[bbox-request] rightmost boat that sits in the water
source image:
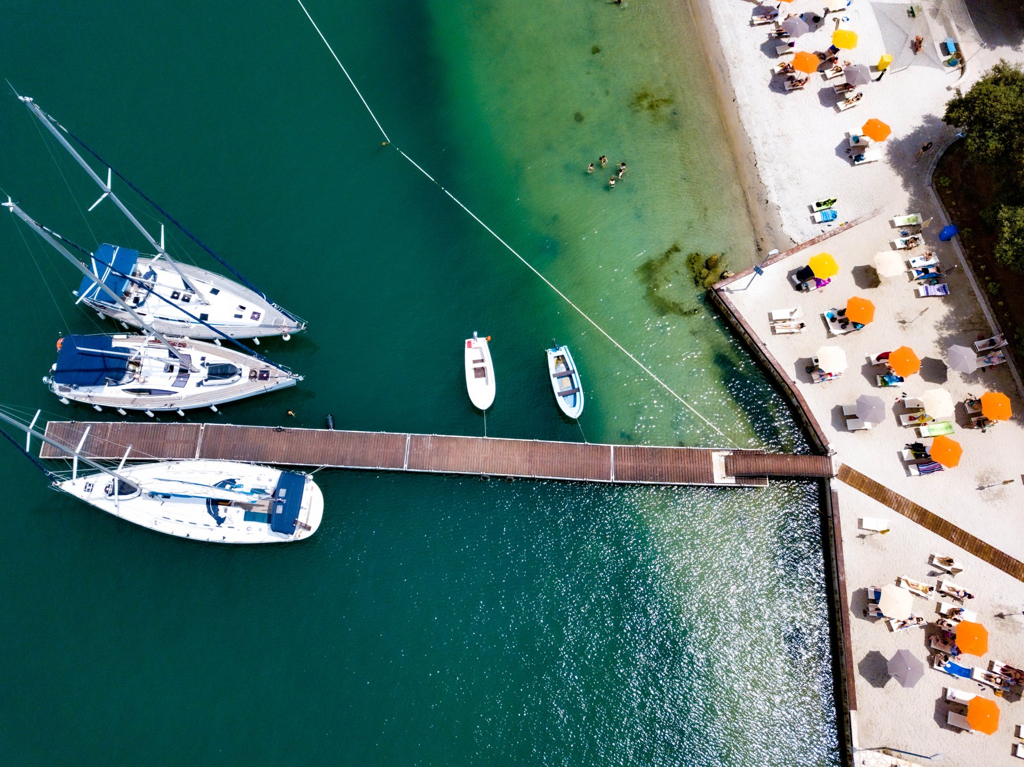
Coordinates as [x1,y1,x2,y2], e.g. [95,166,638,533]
[547,333,587,443]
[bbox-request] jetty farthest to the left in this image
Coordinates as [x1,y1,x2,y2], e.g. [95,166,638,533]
[39,420,770,486]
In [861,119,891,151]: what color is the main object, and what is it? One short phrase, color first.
orange umbrella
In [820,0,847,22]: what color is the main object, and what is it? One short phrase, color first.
white umbrella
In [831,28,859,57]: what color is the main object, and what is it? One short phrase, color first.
yellow umbrella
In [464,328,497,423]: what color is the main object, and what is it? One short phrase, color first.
white boat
